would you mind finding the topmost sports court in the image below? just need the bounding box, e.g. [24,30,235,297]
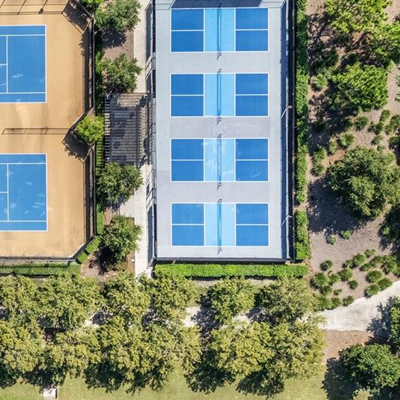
[152,0,287,62]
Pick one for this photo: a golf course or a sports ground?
sports ground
